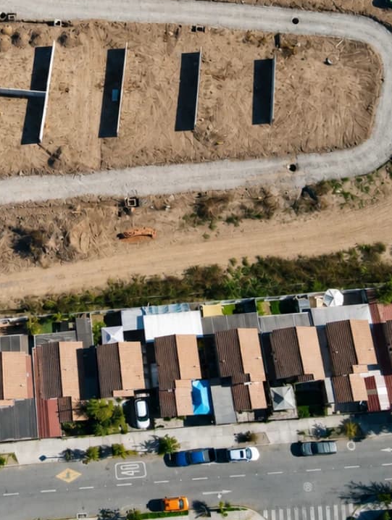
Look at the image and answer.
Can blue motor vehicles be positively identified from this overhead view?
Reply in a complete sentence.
Yes, there is a blue motor vehicle in the image.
